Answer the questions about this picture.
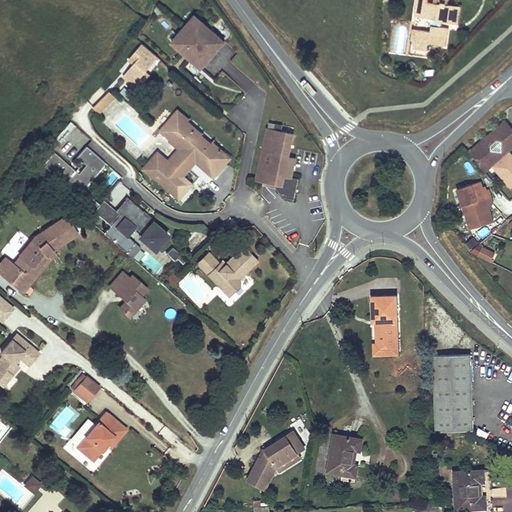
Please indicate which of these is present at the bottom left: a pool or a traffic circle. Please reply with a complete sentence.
You can see a pool at the bottom left.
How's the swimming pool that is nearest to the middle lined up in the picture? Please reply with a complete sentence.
The swimming pool that is nearest to the middle runs from side to side in the image.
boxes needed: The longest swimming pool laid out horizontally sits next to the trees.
[180,272,253,308]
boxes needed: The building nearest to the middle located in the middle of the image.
[198,252,261,298]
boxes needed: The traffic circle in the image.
[324,130,436,242]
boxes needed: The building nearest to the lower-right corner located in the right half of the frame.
[452,470,488,512]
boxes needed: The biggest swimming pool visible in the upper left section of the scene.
[114,112,150,146]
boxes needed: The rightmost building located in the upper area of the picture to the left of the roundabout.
[256,122,299,201]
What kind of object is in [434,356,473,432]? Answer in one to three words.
building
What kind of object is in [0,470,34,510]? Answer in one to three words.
swimming pool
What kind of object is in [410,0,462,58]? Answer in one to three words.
house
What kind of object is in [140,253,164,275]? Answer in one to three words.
swimming pool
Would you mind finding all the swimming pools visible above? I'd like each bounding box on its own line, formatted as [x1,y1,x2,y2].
[476,226,490,240]
[50,405,80,438]
[164,308,176,320]
[464,161,476,176]
[114,112,150,146]
[0,470,34,510]
[140,253,164,275]
[0,419,10,444]
[106,172,119,186]
[180,272,253,308]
